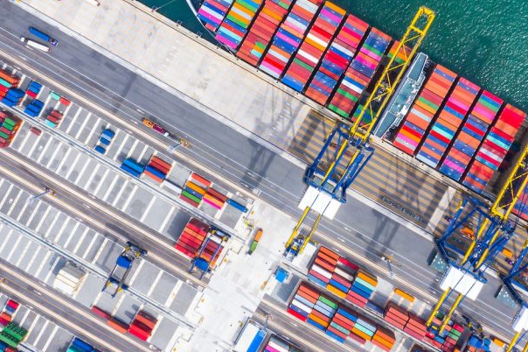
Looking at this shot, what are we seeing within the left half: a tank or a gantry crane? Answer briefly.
gantry crane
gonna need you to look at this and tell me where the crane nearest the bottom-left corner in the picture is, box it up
[98,239,148,300]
